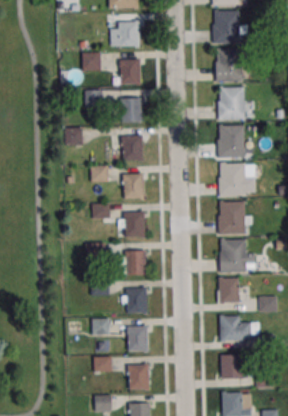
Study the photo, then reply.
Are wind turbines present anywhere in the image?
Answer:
No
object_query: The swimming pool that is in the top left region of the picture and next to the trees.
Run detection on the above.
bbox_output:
[66,68,84,86]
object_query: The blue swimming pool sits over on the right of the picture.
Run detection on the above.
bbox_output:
[258,136,274,152]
